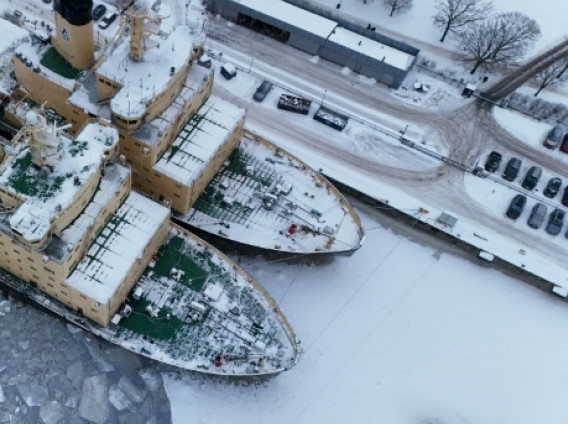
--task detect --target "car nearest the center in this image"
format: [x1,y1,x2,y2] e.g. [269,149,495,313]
[252,82,272,102]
